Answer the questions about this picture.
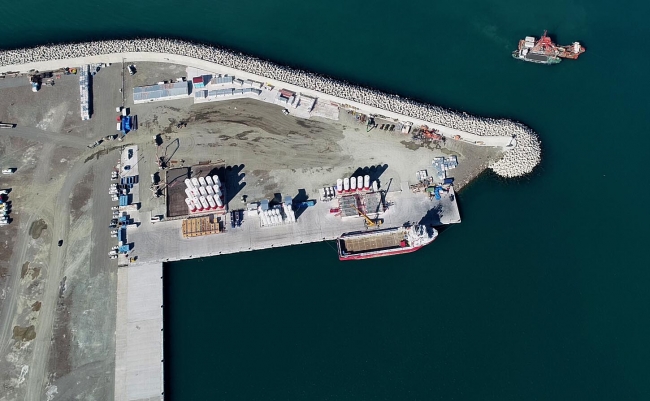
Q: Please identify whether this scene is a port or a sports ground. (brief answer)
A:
port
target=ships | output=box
[517,29,587,57]
[338,223,438,261]
[512,51,562,66]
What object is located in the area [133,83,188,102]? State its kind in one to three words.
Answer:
shed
